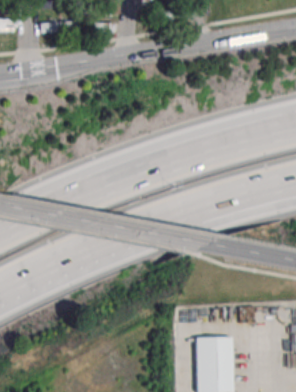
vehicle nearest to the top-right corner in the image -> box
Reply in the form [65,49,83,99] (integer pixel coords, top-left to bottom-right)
[212,32,268,48]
